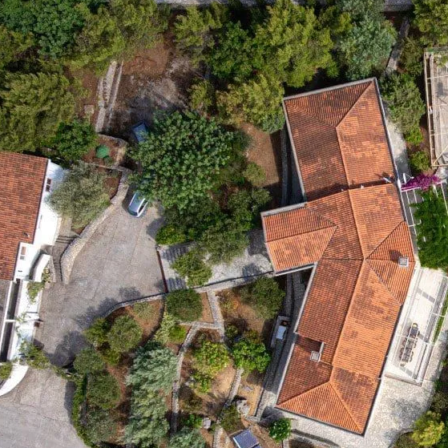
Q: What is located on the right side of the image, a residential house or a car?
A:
residential house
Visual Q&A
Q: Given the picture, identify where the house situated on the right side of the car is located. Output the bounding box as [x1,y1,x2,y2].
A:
[260,77,415,434]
